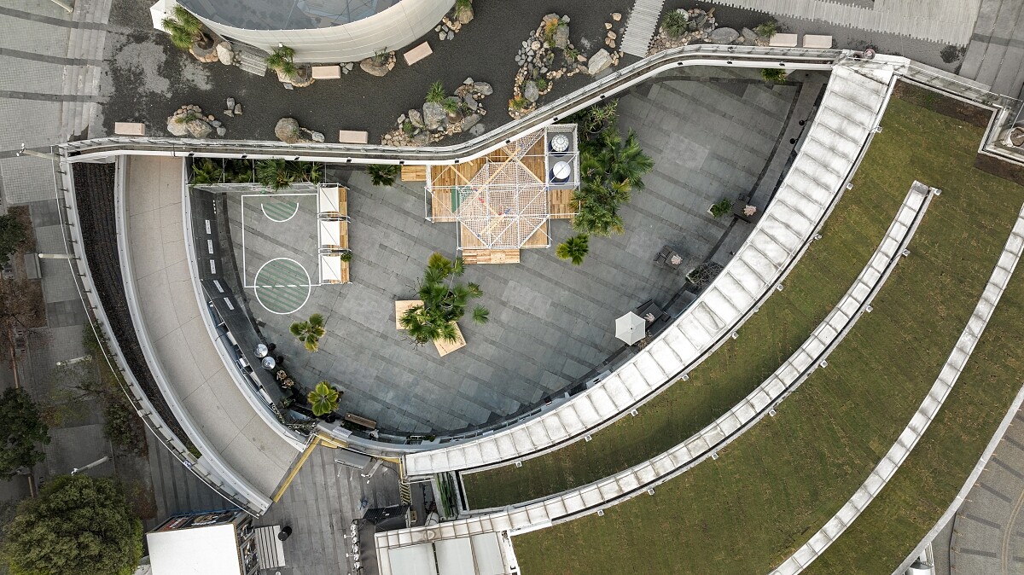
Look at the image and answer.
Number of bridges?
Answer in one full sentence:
I count just 1 bridge.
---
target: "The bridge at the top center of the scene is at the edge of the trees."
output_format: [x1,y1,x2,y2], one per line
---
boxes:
[56,44,841,168]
